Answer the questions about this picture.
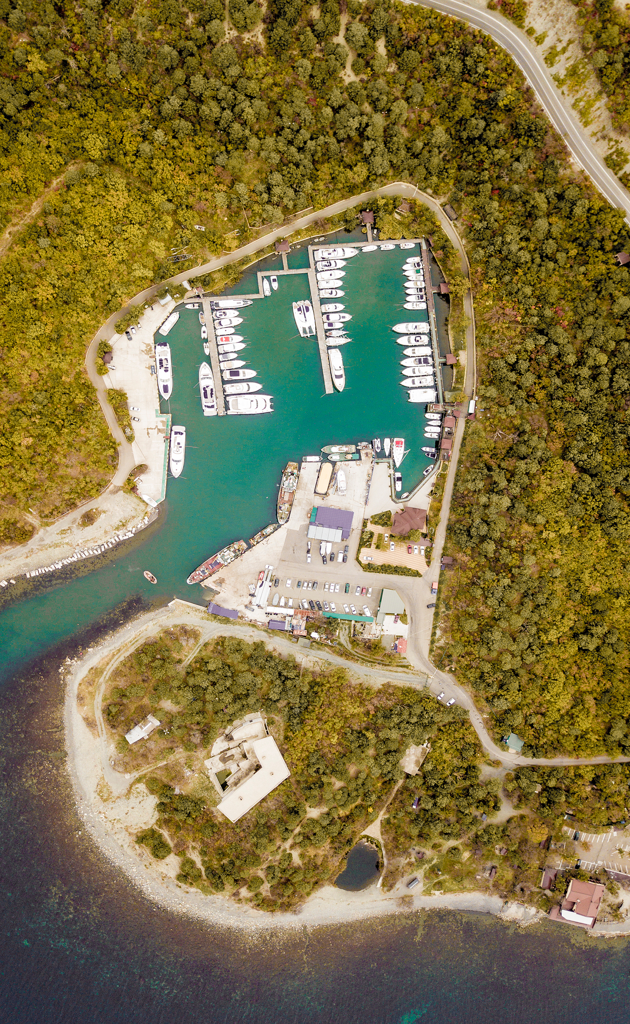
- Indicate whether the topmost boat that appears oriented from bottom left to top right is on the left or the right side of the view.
left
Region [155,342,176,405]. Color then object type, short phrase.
white boat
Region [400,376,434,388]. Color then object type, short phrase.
white boat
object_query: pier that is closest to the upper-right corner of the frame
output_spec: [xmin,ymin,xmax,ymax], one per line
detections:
[421,249,435,313]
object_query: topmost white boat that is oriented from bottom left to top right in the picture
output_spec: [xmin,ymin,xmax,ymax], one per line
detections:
[157,312,183,336]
